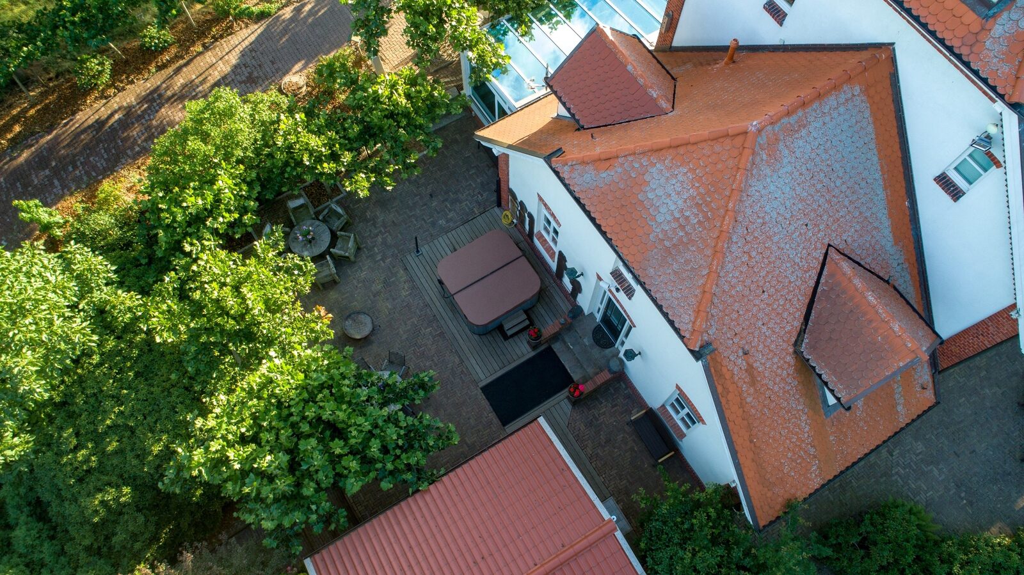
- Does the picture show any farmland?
No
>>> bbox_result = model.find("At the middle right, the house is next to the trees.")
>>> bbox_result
[475,0,1024,534]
